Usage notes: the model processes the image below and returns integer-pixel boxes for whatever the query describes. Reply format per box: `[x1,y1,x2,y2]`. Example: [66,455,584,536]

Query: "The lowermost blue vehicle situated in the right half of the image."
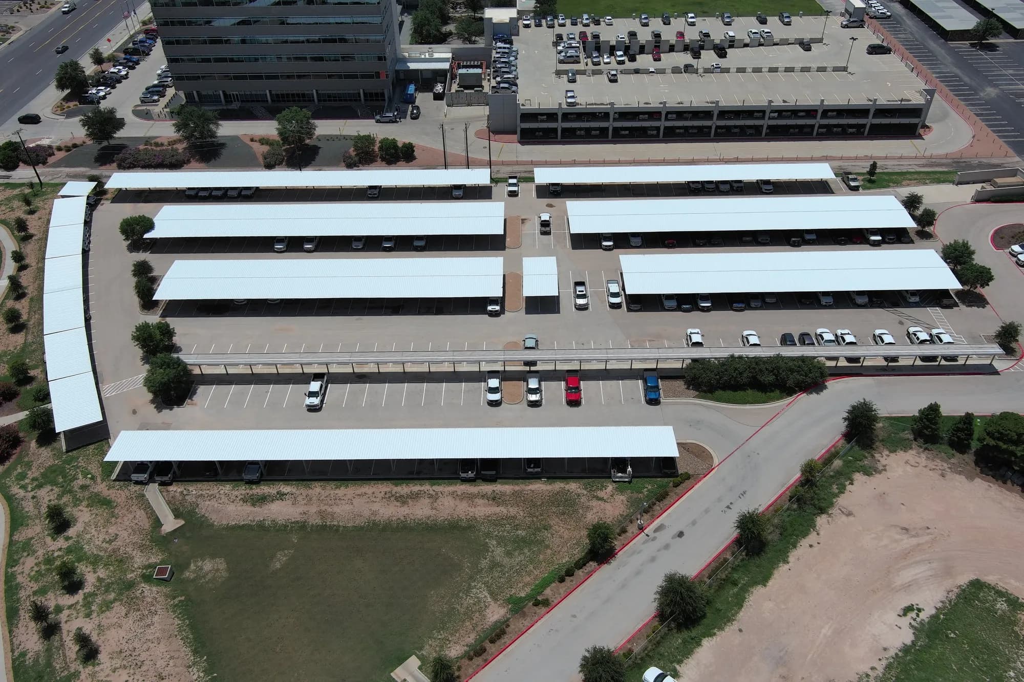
[641,372,661,404]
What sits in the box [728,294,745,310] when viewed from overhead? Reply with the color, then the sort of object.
black car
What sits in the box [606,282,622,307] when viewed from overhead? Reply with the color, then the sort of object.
white vehicle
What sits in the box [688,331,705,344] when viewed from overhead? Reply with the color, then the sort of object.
white vehicle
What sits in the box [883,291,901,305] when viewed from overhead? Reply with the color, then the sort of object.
black car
